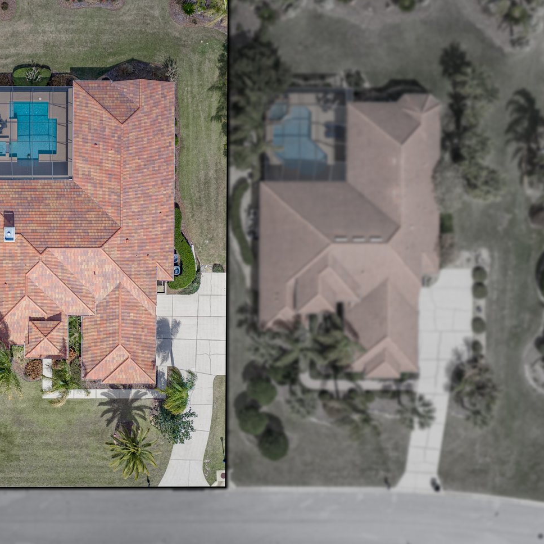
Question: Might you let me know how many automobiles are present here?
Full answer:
I count no automobiles.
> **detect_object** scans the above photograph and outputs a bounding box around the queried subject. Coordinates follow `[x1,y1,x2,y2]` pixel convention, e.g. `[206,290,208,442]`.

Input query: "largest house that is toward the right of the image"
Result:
[258,93,442,380]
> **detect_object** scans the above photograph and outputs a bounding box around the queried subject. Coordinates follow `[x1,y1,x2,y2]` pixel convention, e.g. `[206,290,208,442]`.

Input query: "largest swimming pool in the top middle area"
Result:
[273,105,327,169]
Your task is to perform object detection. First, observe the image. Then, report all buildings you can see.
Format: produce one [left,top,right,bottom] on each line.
[0,76,176,386]
[258,93,442,380]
